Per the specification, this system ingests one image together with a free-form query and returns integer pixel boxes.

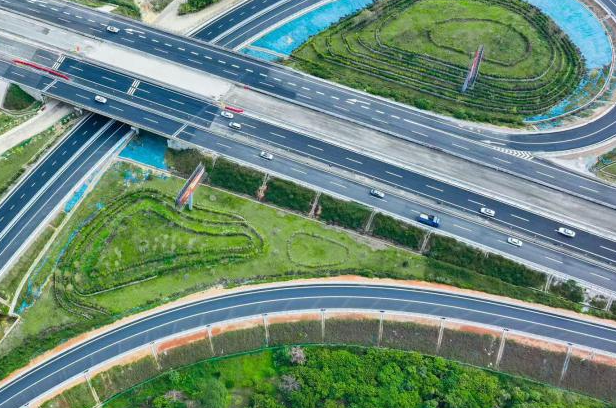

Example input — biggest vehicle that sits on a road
[418,212,441,227]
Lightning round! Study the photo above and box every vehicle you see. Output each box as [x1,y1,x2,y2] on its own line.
[106,26,118,33]
[228,121,242,129]
[220,111,234,119]
[259,151,273,159]
[479,207,495,217]
[506,237,522,246]
[93,95,107,103]
[371,189,384,198]
[418,212,441,227]
[558,227,574,237]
